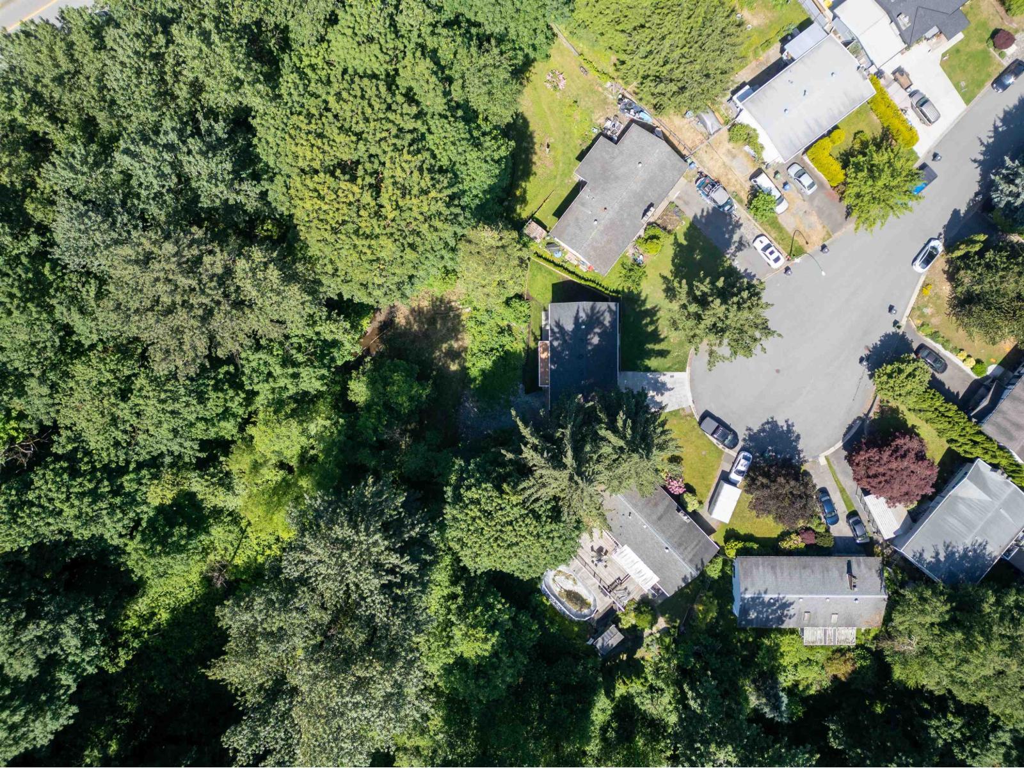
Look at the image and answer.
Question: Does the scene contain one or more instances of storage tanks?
No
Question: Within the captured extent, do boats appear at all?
Yes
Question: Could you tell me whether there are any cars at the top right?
Yes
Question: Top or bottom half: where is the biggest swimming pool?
bottom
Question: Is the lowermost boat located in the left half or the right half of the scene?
right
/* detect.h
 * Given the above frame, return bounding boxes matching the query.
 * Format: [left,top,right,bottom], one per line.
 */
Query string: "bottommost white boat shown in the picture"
[693,171,738,216]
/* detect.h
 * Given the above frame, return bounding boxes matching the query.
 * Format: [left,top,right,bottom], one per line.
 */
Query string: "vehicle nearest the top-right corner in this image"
[988,56,1024,96]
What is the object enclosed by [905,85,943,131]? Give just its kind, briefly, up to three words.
car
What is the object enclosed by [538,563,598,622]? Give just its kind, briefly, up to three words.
swimming pool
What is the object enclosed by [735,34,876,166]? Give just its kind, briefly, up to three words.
house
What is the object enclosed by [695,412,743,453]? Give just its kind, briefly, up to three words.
truck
